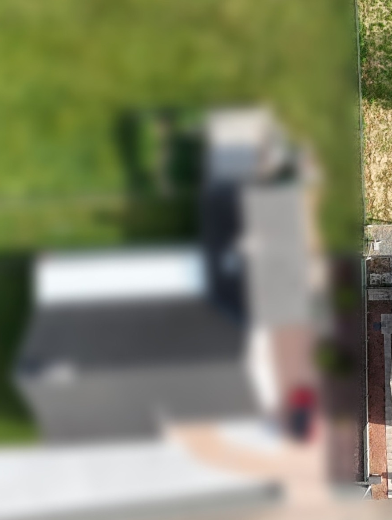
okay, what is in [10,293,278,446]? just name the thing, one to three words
house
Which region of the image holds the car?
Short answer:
bottom right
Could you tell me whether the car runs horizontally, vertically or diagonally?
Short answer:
vertically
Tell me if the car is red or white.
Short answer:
red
